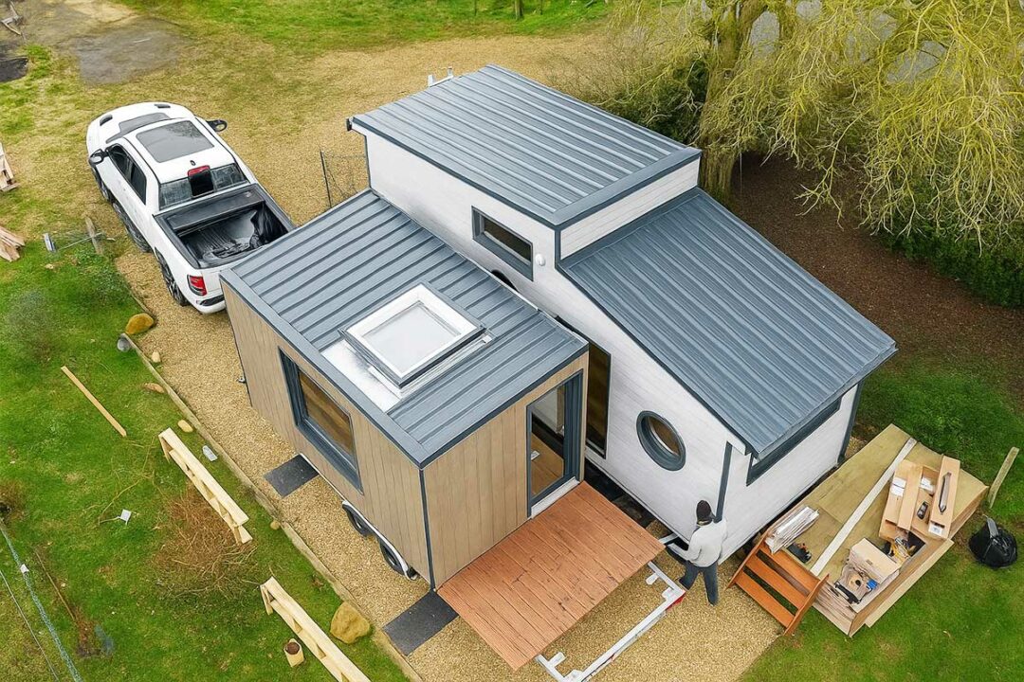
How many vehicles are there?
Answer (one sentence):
There is 1 vehicle in the image.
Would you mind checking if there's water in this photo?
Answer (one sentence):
No, there is no water in the image.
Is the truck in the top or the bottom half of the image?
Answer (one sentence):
You can find the truck in the top half.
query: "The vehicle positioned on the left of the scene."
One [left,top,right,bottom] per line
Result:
[83,105,299,323]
